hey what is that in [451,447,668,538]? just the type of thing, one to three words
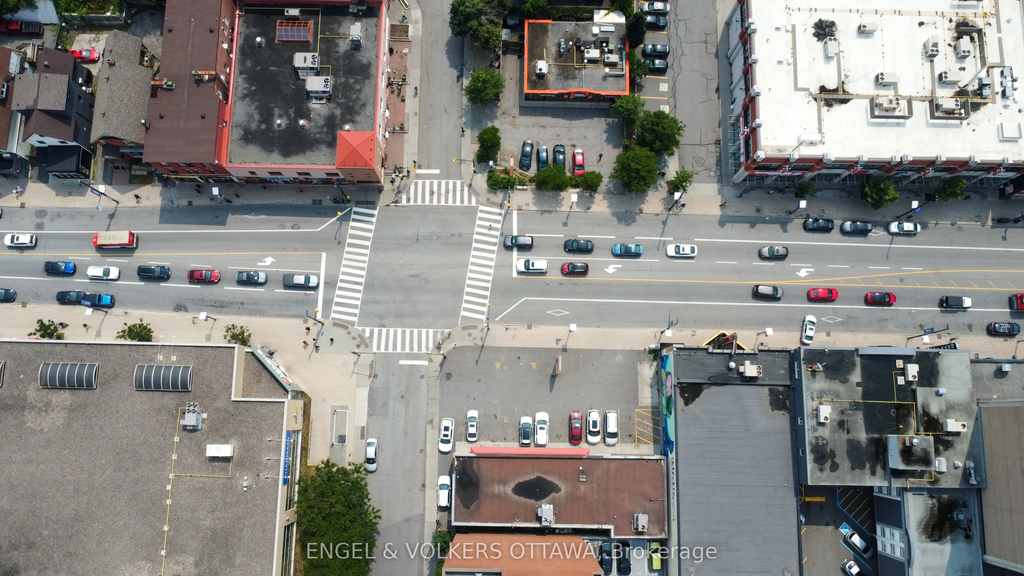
building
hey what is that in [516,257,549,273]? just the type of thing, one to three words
car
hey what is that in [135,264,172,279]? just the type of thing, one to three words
car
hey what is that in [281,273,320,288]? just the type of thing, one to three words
vehicle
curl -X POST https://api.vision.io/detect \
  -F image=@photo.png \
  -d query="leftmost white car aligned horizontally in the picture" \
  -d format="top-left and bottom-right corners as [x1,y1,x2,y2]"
[3,232,39,248]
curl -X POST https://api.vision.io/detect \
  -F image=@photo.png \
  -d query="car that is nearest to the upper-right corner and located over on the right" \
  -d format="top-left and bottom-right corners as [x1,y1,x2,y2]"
[886,221,922,236]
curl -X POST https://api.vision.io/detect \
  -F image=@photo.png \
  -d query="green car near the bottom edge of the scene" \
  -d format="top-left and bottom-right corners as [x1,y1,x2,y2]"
[649,541,664,571]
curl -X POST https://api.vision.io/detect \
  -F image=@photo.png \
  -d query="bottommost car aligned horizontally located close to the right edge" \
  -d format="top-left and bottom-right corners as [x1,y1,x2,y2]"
[987,321,1021,336]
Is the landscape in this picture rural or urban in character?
urban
